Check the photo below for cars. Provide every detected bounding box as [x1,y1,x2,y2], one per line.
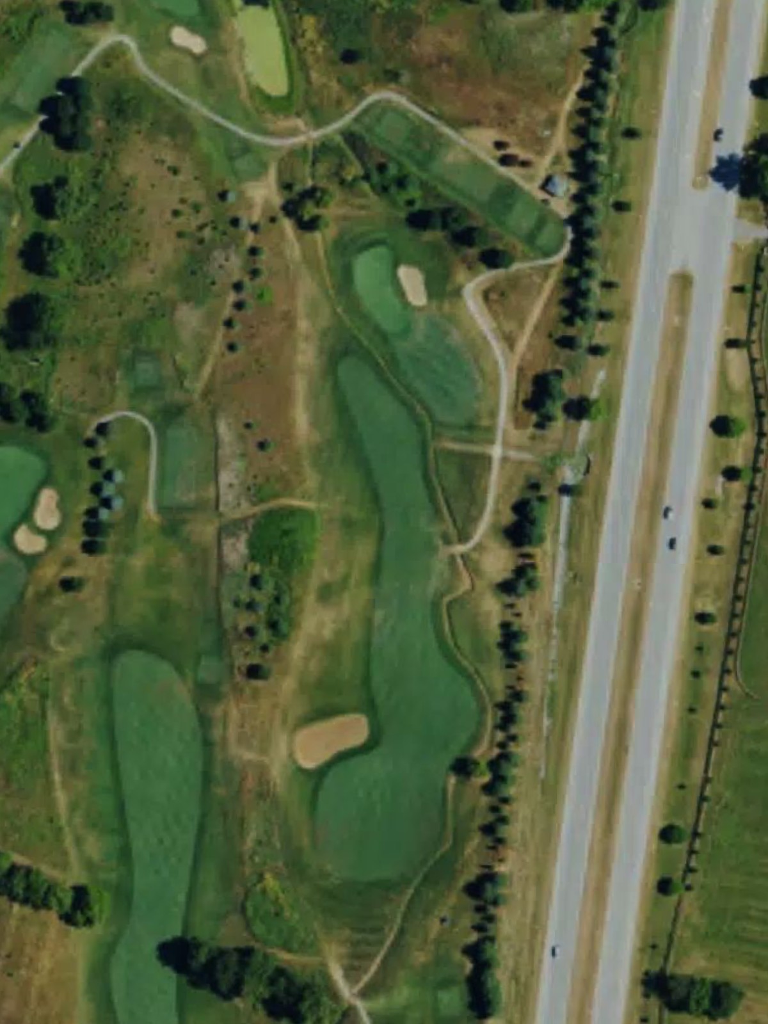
[718,128,724,141]
[667,507,673,520]
[670,537,676,550]
[554,945,560,958]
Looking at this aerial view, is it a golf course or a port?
golf course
